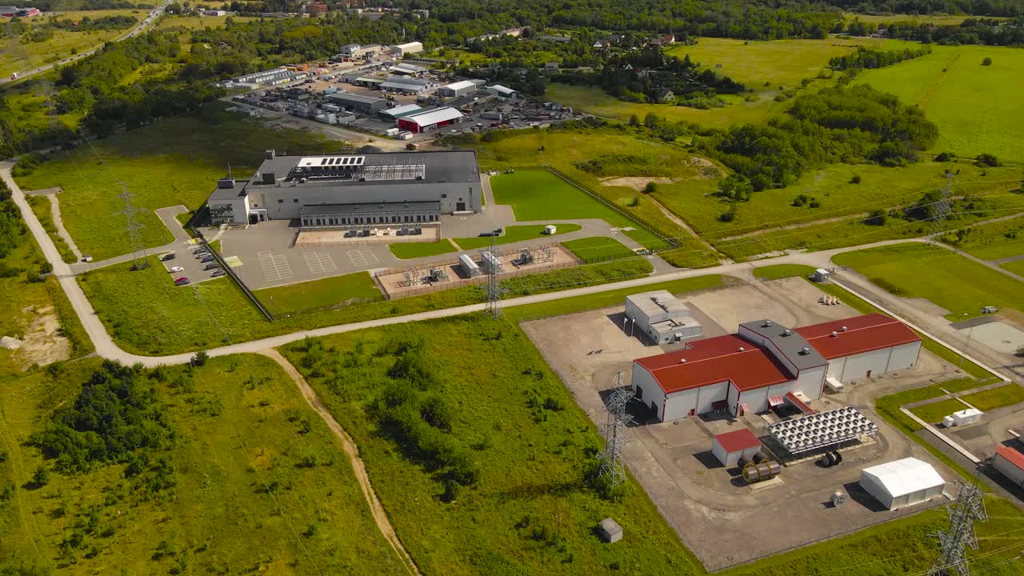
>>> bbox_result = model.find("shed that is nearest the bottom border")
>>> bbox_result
[596,516,622,542]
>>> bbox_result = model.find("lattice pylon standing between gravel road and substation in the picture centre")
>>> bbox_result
[474,230,512,323]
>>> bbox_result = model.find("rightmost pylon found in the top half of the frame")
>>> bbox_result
[918,172,958,246]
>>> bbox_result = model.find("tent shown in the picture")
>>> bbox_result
[858,457,946,510]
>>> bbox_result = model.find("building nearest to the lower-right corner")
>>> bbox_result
[991,443,1024,487]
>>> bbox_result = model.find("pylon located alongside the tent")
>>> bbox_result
[926,469,999,576]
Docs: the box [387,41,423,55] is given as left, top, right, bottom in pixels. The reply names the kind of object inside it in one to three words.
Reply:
building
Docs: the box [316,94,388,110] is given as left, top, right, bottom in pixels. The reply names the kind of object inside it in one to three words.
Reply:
building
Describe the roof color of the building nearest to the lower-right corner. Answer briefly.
red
